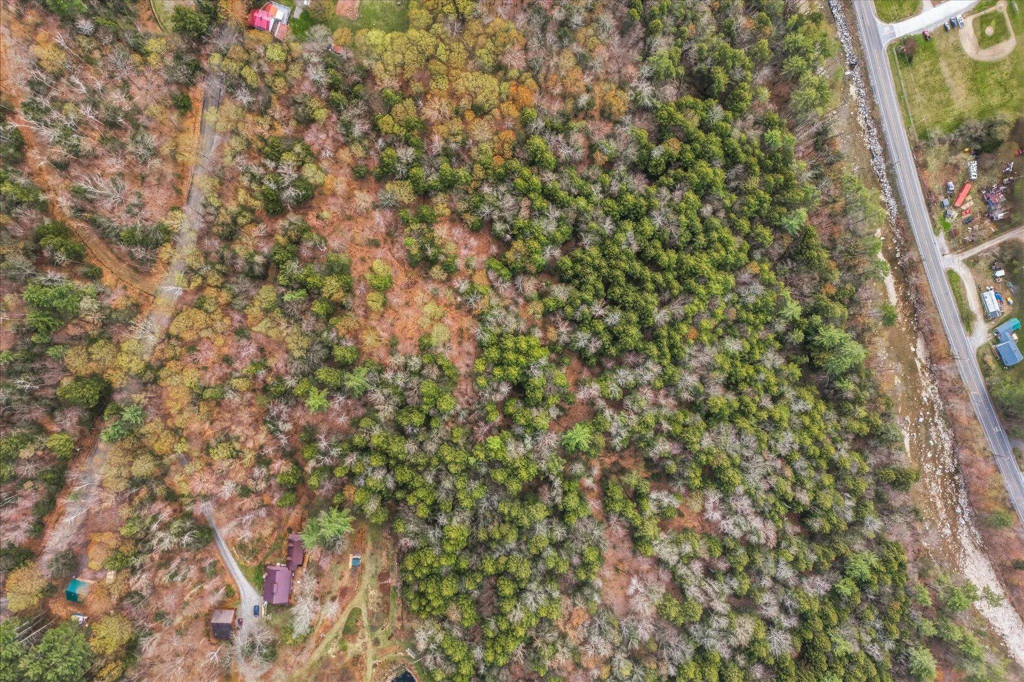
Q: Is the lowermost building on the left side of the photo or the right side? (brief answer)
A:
left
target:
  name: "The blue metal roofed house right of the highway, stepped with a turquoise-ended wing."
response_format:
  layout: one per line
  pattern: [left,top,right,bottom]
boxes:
[992,316,1023,366]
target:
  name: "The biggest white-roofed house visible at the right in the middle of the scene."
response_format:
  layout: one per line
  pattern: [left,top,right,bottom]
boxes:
[977,289,1001,319]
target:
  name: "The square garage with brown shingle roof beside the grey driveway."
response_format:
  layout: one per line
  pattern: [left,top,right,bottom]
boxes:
[209,607,235,638]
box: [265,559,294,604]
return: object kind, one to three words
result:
house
